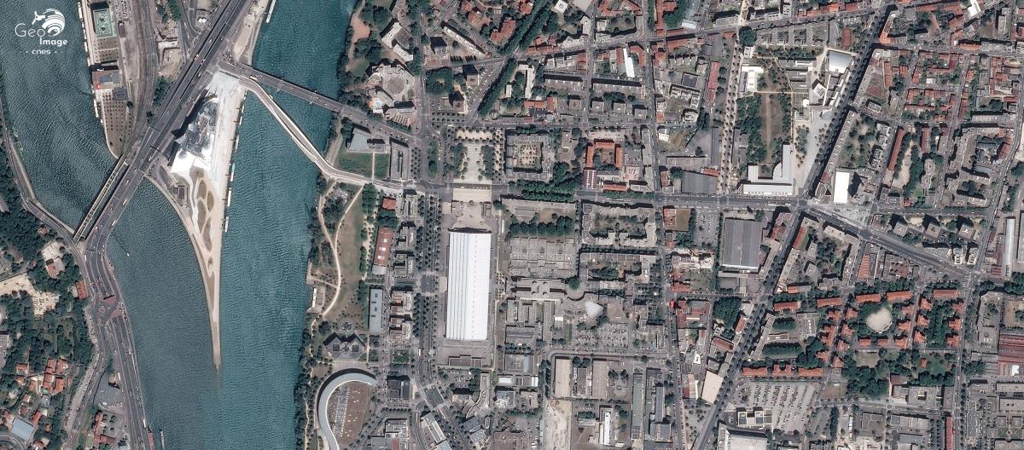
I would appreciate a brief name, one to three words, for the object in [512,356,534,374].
building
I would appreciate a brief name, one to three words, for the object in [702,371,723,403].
building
